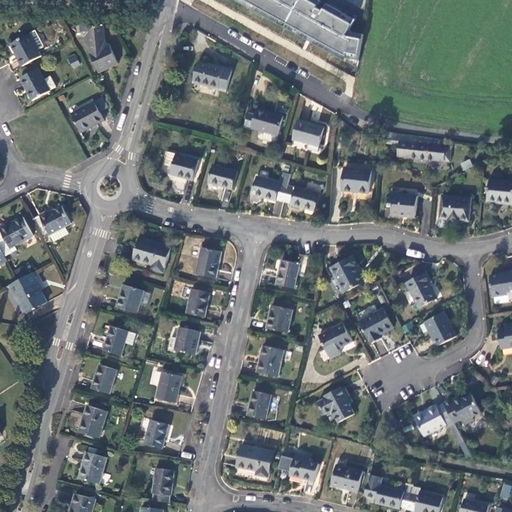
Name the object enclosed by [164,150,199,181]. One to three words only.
house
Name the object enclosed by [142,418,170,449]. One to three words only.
house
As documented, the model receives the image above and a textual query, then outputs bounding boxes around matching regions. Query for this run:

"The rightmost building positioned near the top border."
[242,0,364,62]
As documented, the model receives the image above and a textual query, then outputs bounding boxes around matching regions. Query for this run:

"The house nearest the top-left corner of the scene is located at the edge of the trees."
[10,30,43,65]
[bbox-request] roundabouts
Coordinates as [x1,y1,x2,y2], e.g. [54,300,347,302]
[84,162,136,214]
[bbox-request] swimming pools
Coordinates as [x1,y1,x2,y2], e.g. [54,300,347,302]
[268,392,282,422]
